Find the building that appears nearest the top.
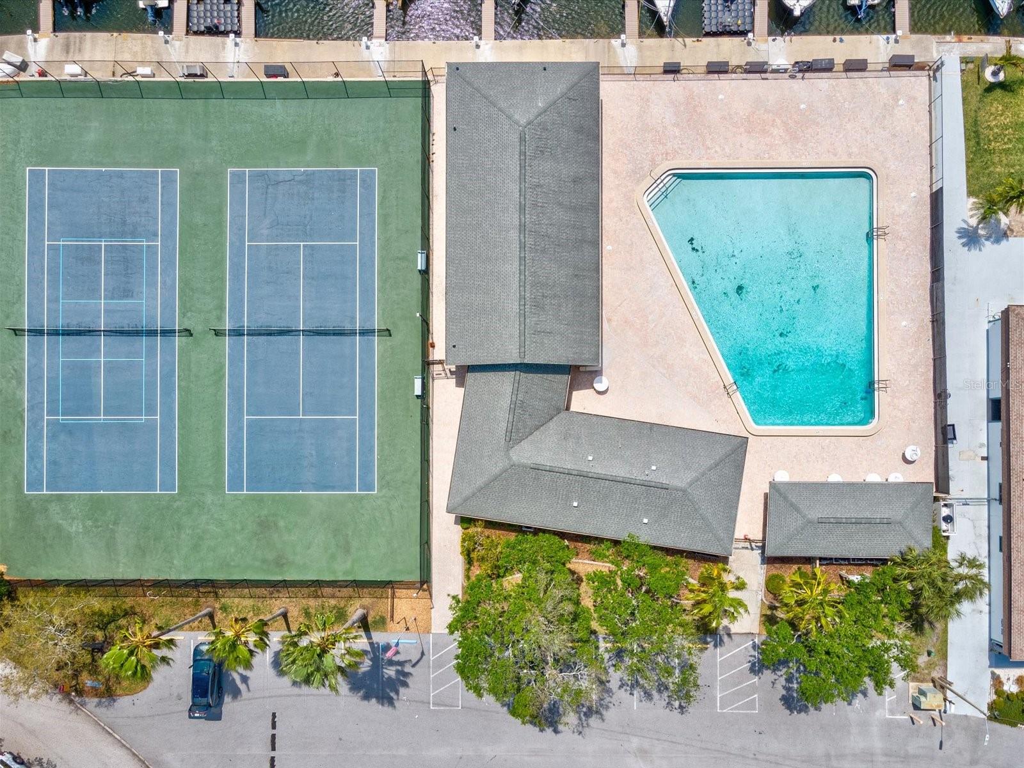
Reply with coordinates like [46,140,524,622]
[445,61,606,369]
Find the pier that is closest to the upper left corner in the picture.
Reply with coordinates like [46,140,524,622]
[33,0,64,33]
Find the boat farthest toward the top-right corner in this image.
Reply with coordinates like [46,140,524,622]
[988,0,1010,22]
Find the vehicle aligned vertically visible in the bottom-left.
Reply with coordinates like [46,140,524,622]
[187,644,222,717]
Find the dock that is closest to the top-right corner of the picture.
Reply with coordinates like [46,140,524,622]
[885,0,915,34]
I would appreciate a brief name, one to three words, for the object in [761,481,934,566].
building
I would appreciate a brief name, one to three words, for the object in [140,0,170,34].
boat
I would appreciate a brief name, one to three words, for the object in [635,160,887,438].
swimming pool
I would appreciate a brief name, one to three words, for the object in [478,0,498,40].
pier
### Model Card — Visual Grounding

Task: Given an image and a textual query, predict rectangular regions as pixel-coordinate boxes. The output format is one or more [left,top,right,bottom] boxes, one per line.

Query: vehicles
[187,644,222,717]
[0,750,34,768]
